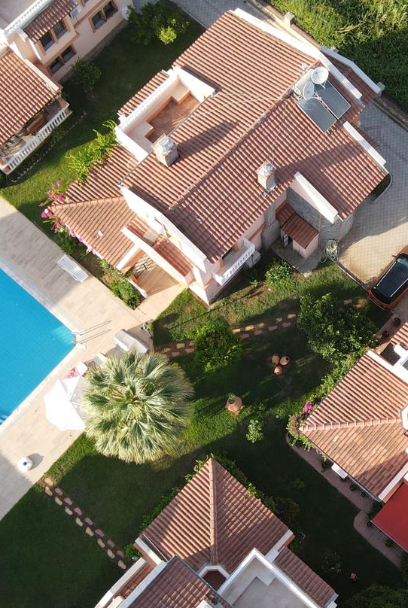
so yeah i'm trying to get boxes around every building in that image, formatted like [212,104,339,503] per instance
[113,457,350,608]
[297,320,408,508]
[45,6,393,314]
[0,0,148,186]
